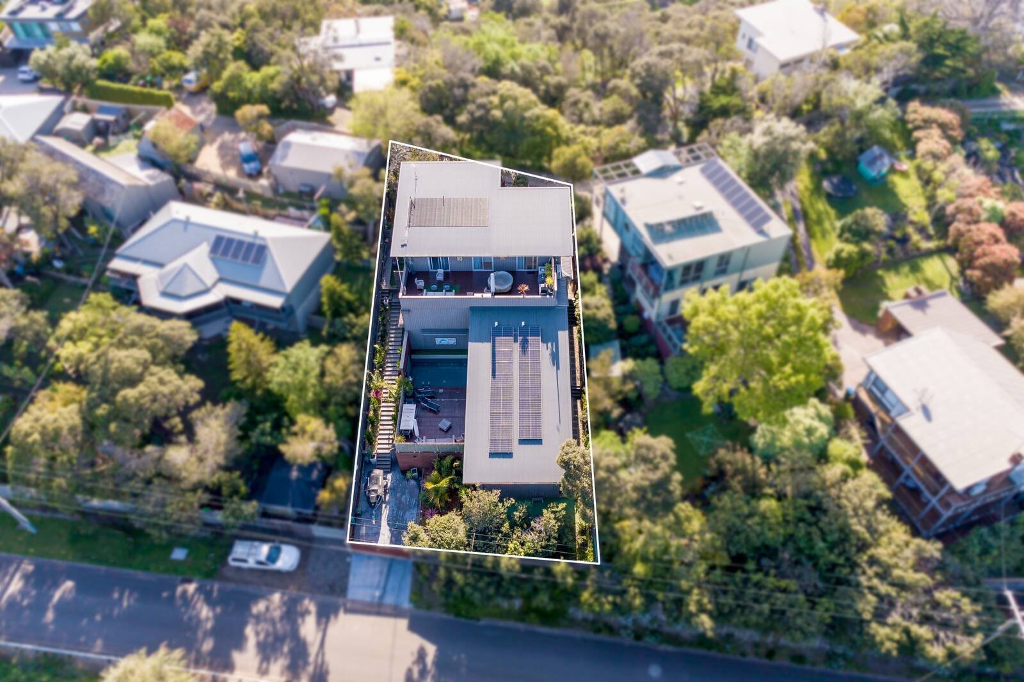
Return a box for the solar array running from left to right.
[209,235,259,264]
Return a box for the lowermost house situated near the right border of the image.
[844,326,1024,542]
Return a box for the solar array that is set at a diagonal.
[700,161,774,228]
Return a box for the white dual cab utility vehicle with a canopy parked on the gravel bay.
[221,534,300,572]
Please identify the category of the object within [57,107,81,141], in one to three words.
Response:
shed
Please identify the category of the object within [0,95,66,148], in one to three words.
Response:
building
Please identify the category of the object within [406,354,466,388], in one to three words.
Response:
swimming pool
